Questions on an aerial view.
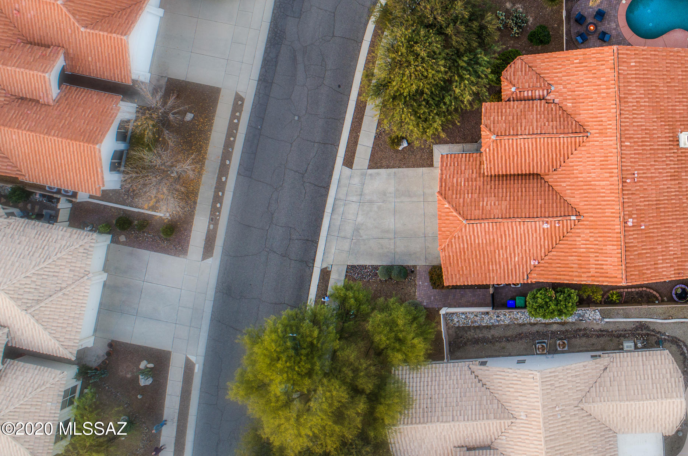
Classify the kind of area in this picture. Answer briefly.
residential area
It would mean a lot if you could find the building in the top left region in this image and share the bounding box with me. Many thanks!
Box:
[0,0,174,196]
